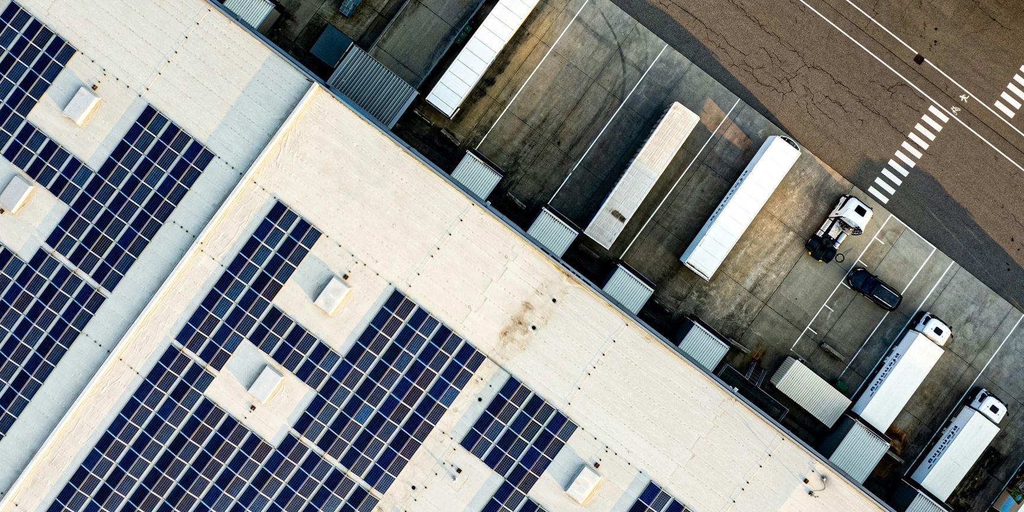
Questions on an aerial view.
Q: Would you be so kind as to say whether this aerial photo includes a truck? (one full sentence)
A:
Yes, the picture does show a truck.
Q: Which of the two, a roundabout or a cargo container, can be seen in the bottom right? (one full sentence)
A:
It is a cargo container that can be seen in the bottom right.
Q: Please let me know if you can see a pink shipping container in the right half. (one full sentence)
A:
No, there is no pink shipping container in the right half.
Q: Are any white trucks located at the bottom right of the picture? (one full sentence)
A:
Yes, at the bottom right of the picture there is a white truck.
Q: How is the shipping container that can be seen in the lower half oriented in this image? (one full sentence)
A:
I'd say the shipping container that can be seen in the lower half is aligned on a diagonal in the picture.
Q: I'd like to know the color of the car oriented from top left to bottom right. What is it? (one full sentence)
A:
The color of the car oriented from top left to bottom right is black.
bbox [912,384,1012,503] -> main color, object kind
white truck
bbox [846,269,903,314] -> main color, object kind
black car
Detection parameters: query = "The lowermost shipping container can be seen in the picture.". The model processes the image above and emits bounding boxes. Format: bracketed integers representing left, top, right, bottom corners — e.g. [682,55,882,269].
[770,355,851,428]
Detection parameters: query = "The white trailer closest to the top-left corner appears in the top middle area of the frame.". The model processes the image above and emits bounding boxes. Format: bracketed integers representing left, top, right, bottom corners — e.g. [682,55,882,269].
[425,0,541,120]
